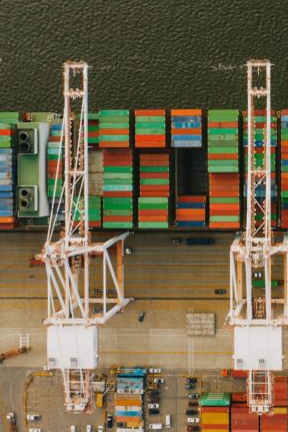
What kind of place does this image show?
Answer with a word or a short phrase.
port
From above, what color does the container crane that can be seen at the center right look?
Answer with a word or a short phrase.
white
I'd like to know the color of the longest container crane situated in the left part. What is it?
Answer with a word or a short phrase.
white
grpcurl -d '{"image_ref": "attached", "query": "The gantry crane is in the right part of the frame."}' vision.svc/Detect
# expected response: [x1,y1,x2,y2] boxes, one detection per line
[228,61,288,415]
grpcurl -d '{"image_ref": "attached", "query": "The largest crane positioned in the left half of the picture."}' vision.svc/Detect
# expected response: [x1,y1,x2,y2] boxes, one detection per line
[34,61,139,415]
